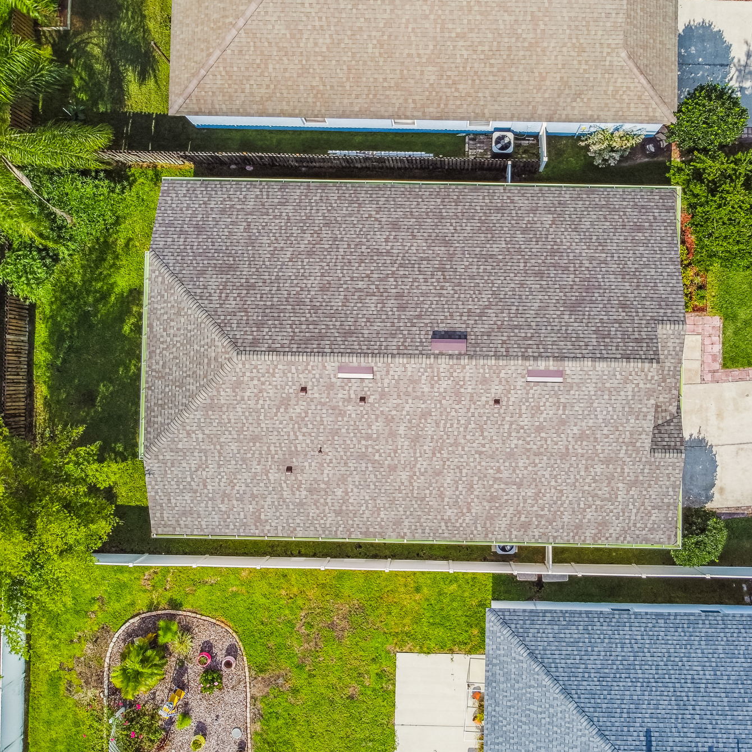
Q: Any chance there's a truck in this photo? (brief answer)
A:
No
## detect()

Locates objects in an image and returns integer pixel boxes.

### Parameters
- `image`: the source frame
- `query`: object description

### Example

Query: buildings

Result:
[166,0,680,135]
[139,176,686,548]
[483,600,752,752]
